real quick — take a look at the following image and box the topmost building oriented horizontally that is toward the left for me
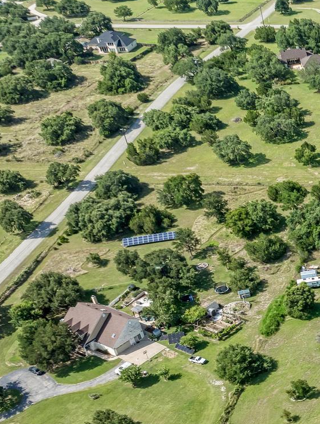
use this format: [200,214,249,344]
[89,32,143,54]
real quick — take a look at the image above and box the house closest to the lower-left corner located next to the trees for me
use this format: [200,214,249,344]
[63,292,143,354]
